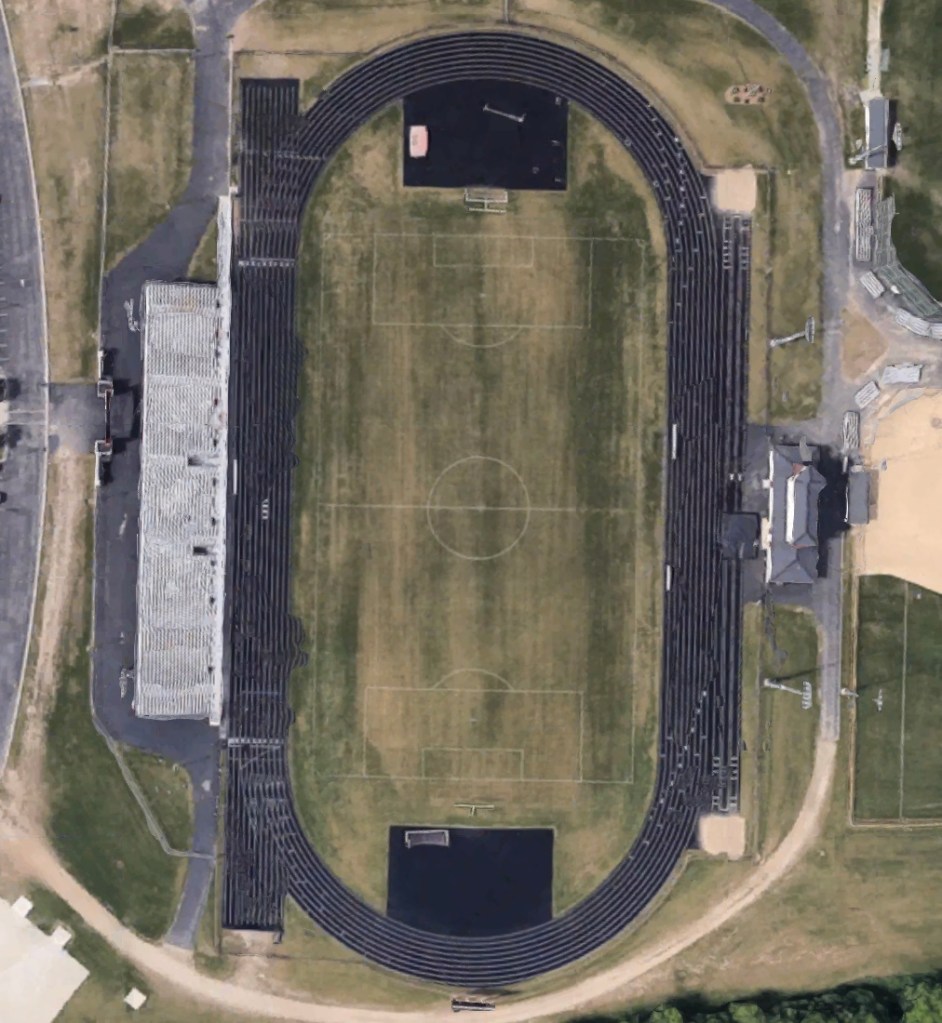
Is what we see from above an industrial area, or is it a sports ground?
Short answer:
sports ground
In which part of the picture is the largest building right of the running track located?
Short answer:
right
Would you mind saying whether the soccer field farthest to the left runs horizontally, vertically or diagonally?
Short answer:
vertically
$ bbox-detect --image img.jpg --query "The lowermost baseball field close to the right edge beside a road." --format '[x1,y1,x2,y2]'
[849,390,942,826]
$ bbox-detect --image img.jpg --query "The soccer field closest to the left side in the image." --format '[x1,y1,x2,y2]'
[292,99,665,918]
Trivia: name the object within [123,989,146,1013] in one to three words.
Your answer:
shed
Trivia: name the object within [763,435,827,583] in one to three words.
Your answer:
building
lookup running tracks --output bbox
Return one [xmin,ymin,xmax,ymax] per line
[216,29,754,987]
